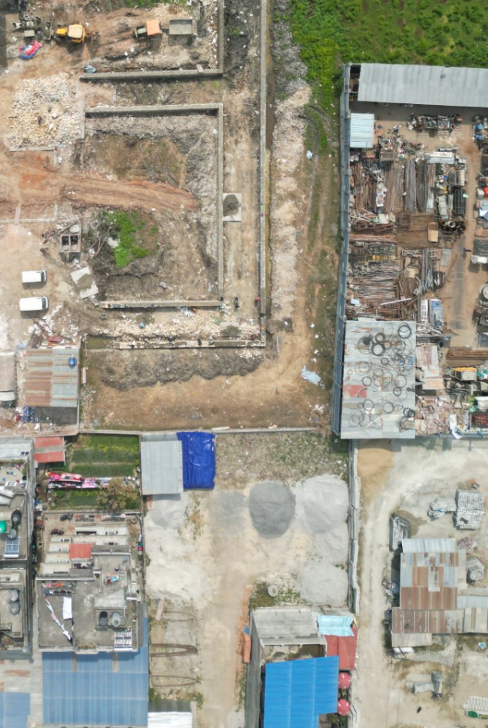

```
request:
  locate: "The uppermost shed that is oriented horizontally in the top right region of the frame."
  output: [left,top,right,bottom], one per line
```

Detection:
[349,64,488,107]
